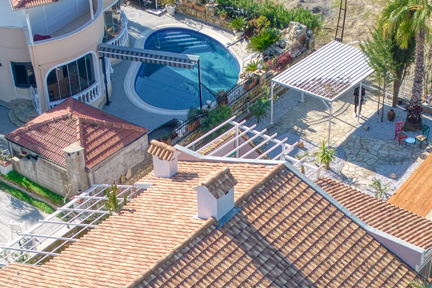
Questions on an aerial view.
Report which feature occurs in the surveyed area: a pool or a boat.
pool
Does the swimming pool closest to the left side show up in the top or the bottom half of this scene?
top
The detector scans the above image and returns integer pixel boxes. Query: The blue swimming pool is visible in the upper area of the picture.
[121,21,251,117]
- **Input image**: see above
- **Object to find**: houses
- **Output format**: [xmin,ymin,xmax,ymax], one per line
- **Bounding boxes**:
[0,0,138,129]
[0,134,432,288]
